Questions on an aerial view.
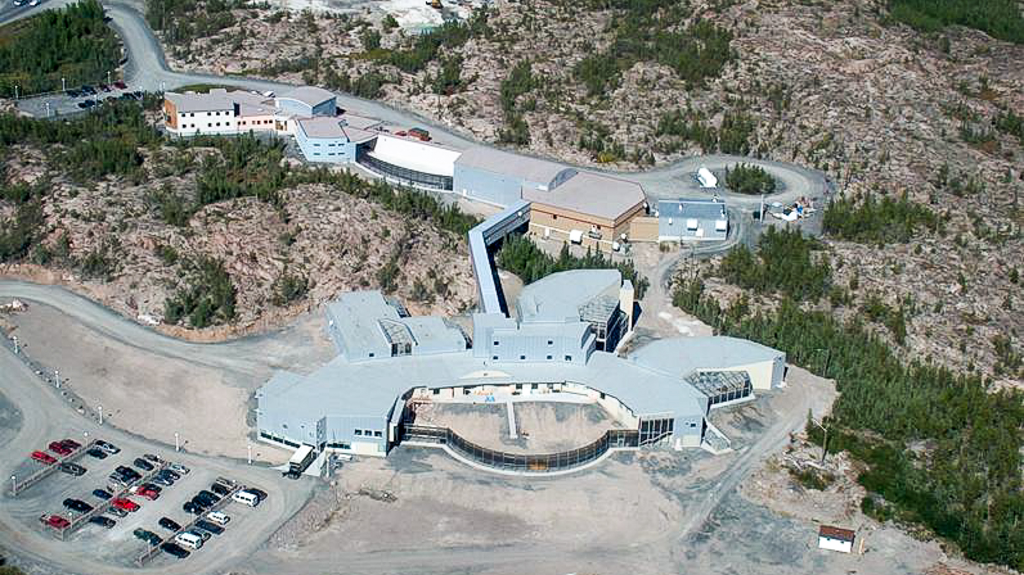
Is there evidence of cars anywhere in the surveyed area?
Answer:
Yes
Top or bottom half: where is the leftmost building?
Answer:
top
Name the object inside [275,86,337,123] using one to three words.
building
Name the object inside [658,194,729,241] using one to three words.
shed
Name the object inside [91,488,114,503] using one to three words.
car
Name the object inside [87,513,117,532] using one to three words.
vehicle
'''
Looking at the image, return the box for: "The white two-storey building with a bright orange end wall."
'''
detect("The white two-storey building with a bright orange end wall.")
[164,89,235,136]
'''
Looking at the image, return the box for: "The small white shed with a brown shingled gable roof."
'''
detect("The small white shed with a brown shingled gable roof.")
[819,524,854,553]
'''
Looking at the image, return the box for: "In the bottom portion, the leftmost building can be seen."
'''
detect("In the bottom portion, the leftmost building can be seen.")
[254,269,786,460]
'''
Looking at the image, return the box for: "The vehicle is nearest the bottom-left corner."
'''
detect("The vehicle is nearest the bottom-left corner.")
[44,516,69,531]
